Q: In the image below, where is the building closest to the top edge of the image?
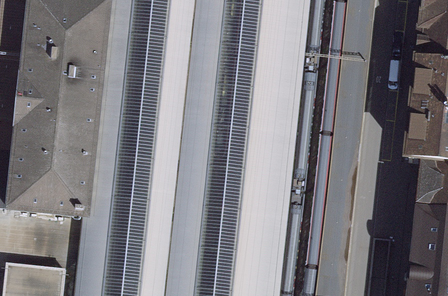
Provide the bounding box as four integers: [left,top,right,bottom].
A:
[416,0,448,54]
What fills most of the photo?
buildings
